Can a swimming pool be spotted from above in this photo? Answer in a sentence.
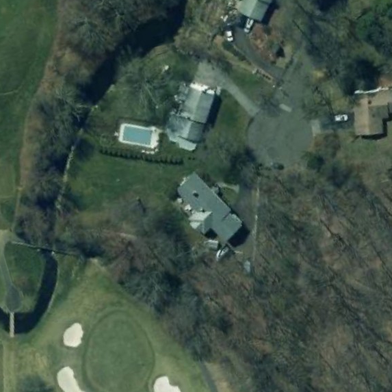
Yes, the frame does contain a swimming pool.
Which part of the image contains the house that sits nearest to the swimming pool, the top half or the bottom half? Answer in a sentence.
It is in the top half that the house that sits nearest to the swimming pool appears.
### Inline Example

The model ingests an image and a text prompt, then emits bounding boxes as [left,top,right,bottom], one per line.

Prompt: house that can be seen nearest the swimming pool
[167,82,217,152]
